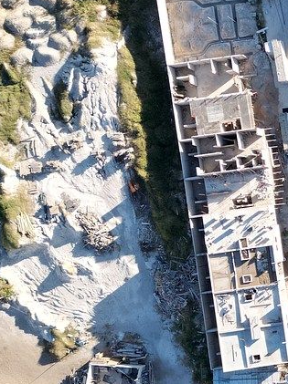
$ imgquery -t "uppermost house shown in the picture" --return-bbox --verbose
[177,56,261,103]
